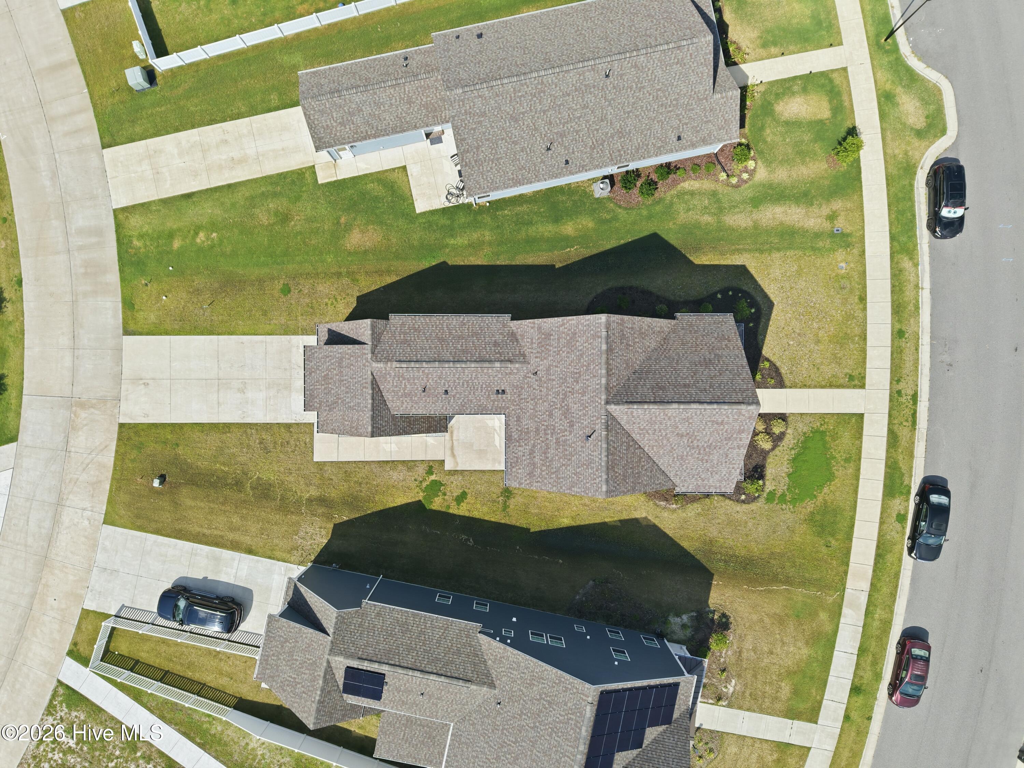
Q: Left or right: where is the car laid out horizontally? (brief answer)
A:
left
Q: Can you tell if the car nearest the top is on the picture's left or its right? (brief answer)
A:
right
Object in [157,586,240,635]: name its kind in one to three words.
car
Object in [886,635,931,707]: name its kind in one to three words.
car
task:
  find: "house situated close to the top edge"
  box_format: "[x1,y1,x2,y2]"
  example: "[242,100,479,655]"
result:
[299,0,742,204]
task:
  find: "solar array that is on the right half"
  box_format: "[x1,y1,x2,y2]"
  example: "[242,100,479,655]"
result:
[585,686,672,768]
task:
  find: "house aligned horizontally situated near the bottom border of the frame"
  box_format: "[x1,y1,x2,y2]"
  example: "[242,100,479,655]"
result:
[253,564,709,768]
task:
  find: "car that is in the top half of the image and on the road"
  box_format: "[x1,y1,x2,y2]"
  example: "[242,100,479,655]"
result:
[925,163,968,240]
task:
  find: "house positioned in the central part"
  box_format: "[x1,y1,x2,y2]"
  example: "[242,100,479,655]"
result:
[303,313,759,498]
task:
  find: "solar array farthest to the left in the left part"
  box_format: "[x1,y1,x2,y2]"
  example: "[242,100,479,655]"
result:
[343,669,383,699]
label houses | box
[253,564,709,768]
[303,313,759,498]
[299,0,742,204]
